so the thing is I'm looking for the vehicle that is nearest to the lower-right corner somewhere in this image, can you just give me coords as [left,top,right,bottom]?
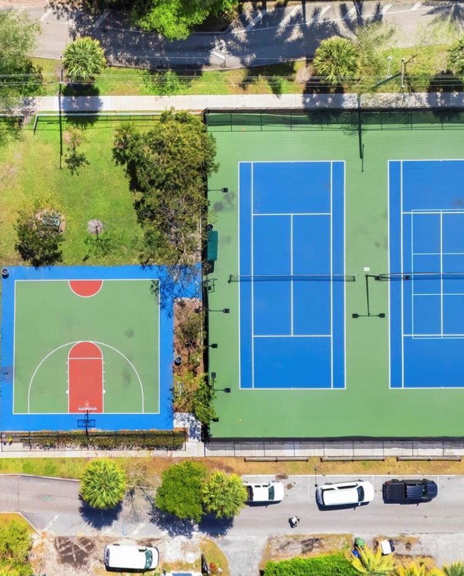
[378,478,436,504]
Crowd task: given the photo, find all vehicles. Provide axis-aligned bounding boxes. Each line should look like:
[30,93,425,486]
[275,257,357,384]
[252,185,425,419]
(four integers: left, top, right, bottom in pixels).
[103,542,158,570]
[378,478,436,504]
[315,481,371,506]
[229,479,285,506]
